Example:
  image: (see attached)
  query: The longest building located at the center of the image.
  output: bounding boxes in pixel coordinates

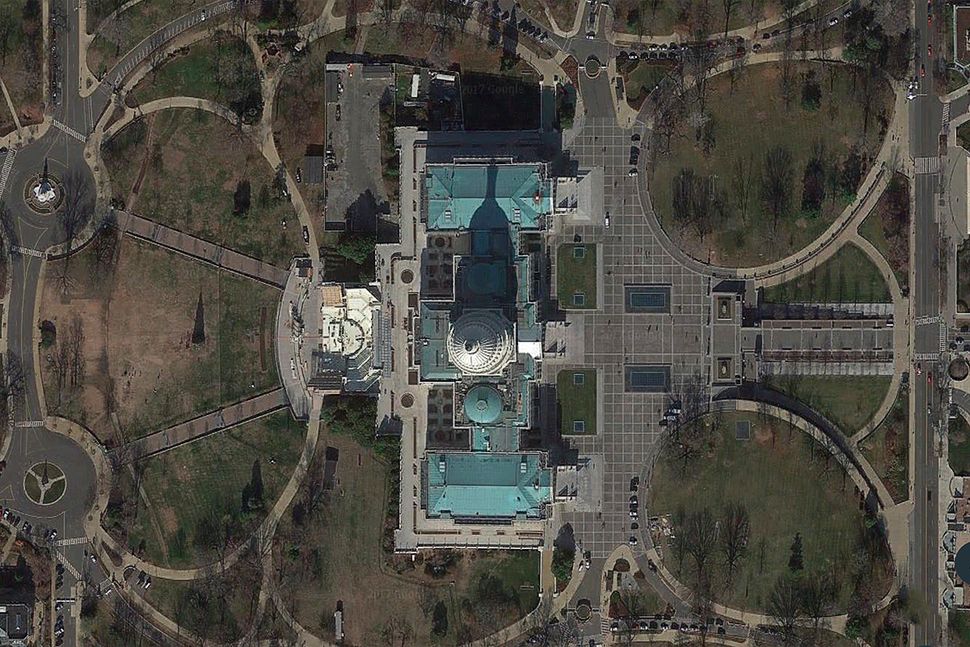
[411,156,591,525]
